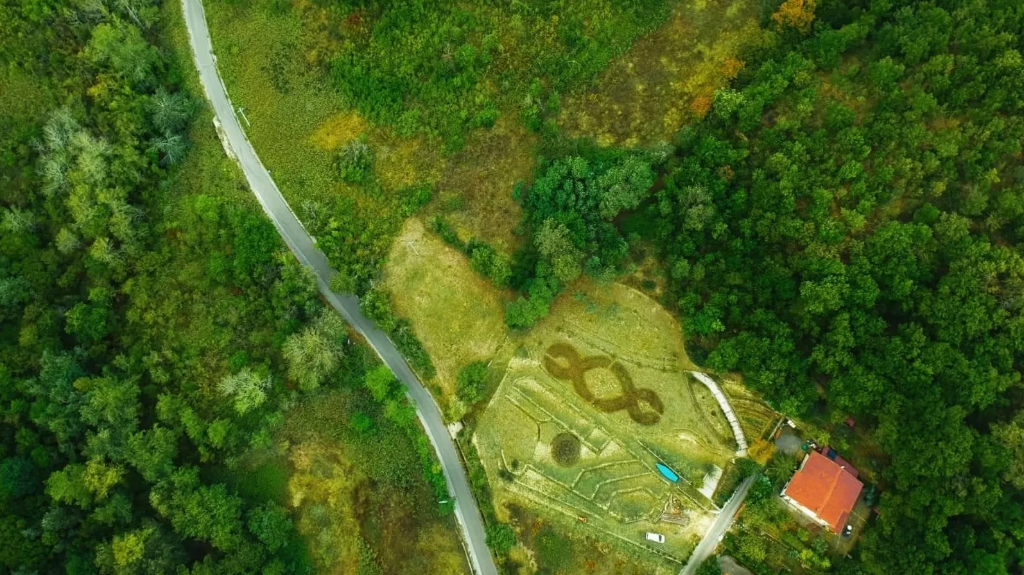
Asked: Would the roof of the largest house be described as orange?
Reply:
Yes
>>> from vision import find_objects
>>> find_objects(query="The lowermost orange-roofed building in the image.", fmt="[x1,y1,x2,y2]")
[776,445,863,531]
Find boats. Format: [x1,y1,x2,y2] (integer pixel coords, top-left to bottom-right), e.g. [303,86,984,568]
[656,464,678,483]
